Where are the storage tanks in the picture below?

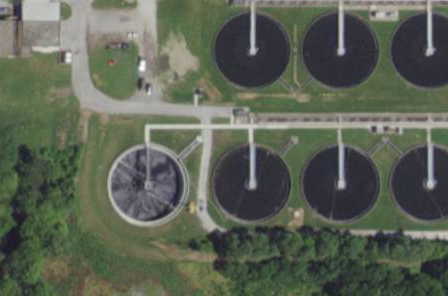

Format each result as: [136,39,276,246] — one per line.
[391,0,448,88]
[390,128,448,224]
[300,128,380,224]
[214,0,290,89]
[106,129,188,226]
[302,0,380,89]
[212,128,290,224]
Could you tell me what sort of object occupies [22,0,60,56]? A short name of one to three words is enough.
building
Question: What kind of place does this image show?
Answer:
industrial area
